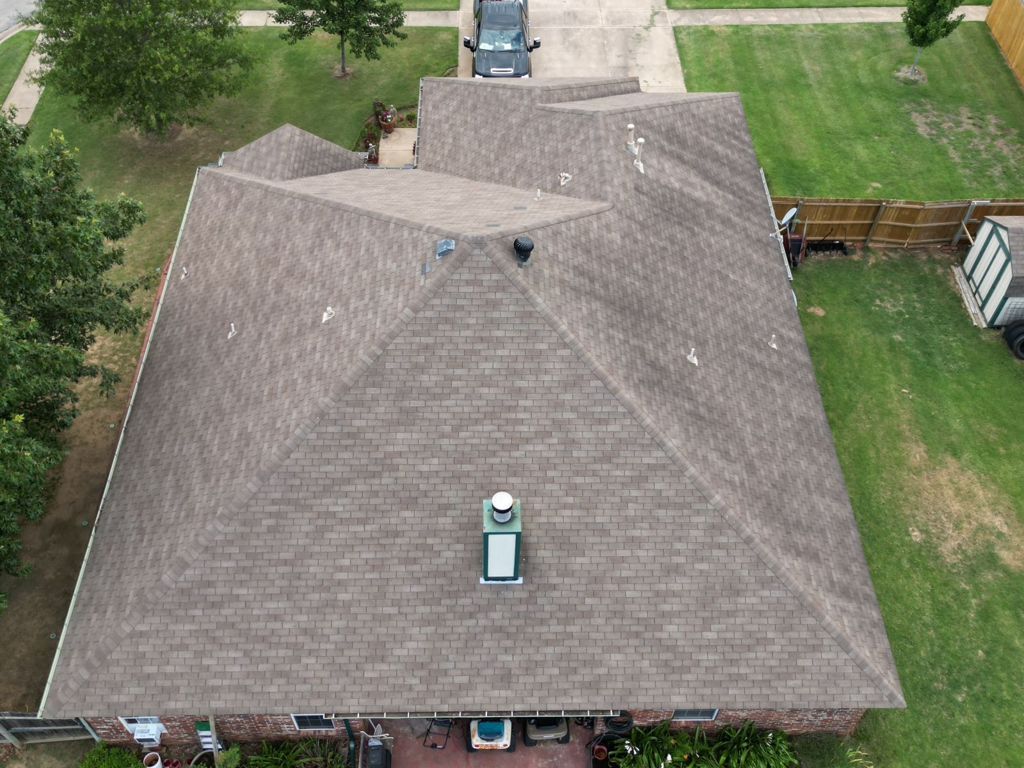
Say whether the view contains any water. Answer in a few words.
No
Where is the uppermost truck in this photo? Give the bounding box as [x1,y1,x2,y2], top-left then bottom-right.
[463,0,541,78]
